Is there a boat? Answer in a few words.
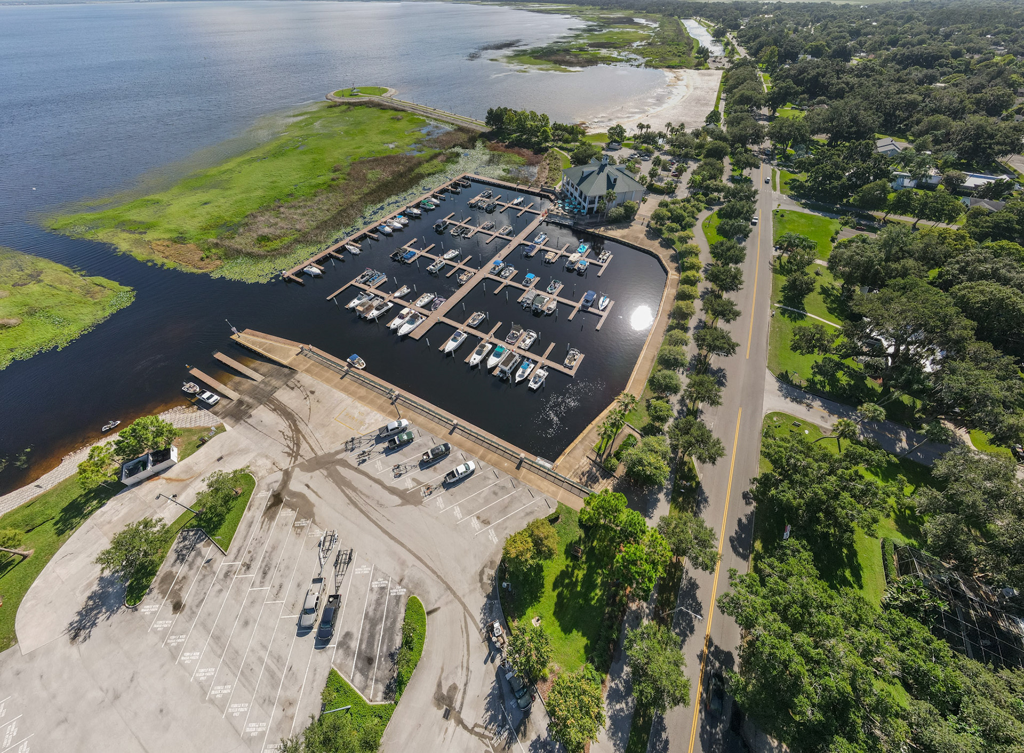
Yes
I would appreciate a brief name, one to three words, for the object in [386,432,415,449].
vehicle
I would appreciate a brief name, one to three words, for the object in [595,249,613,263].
boat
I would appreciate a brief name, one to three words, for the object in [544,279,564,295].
boat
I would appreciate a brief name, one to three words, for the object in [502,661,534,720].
truck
